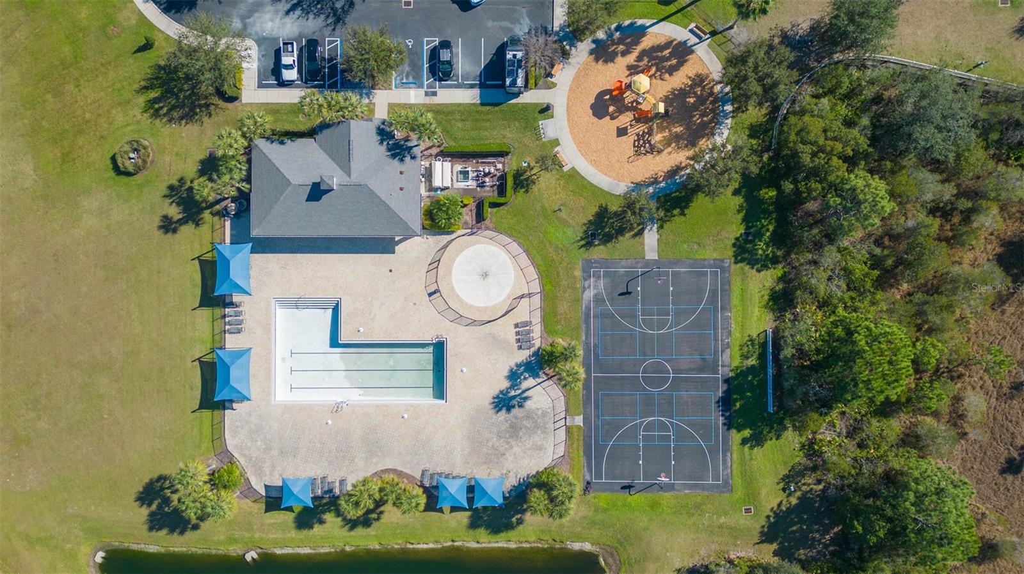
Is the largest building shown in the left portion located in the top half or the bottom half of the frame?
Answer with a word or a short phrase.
top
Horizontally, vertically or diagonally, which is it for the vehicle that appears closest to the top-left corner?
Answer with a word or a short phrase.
vertically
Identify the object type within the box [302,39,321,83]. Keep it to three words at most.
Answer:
vehicle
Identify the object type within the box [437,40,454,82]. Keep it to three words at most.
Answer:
car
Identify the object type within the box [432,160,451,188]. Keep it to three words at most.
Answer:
shed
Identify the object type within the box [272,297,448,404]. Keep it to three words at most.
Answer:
swimming pool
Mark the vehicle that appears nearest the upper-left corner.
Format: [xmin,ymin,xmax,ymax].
[277,41,297,83]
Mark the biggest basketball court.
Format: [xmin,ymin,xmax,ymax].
[581,259,732,494]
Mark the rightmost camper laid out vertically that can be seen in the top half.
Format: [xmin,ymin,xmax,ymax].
[503,35,527,93]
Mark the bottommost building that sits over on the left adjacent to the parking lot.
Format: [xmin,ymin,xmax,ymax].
[251,117,422,238]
